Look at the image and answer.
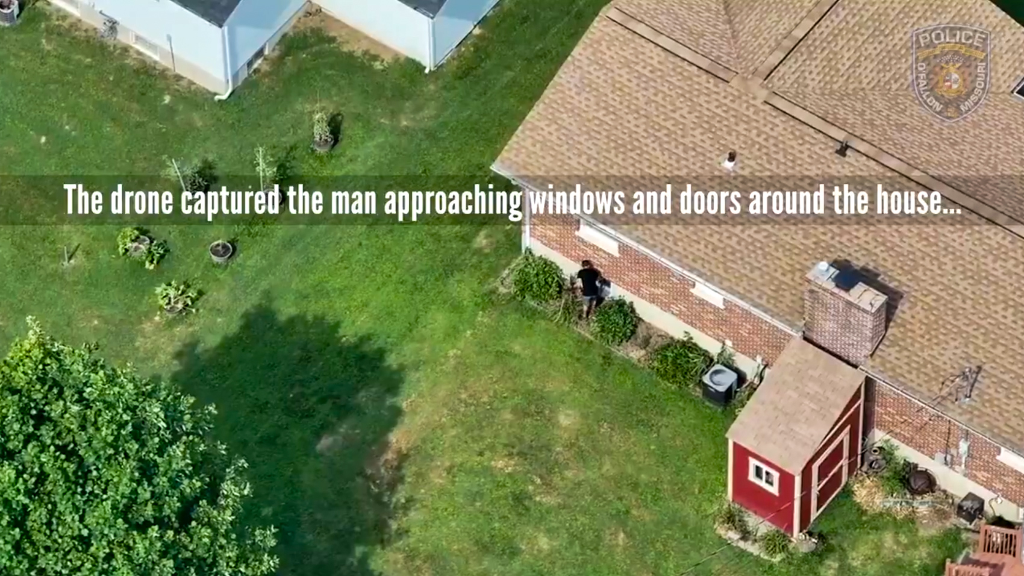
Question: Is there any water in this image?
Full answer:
No, the scene doesn't show any water.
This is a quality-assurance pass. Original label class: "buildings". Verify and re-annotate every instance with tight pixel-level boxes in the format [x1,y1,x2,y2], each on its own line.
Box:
[491,0,1024,524]
[49,0,500,97]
